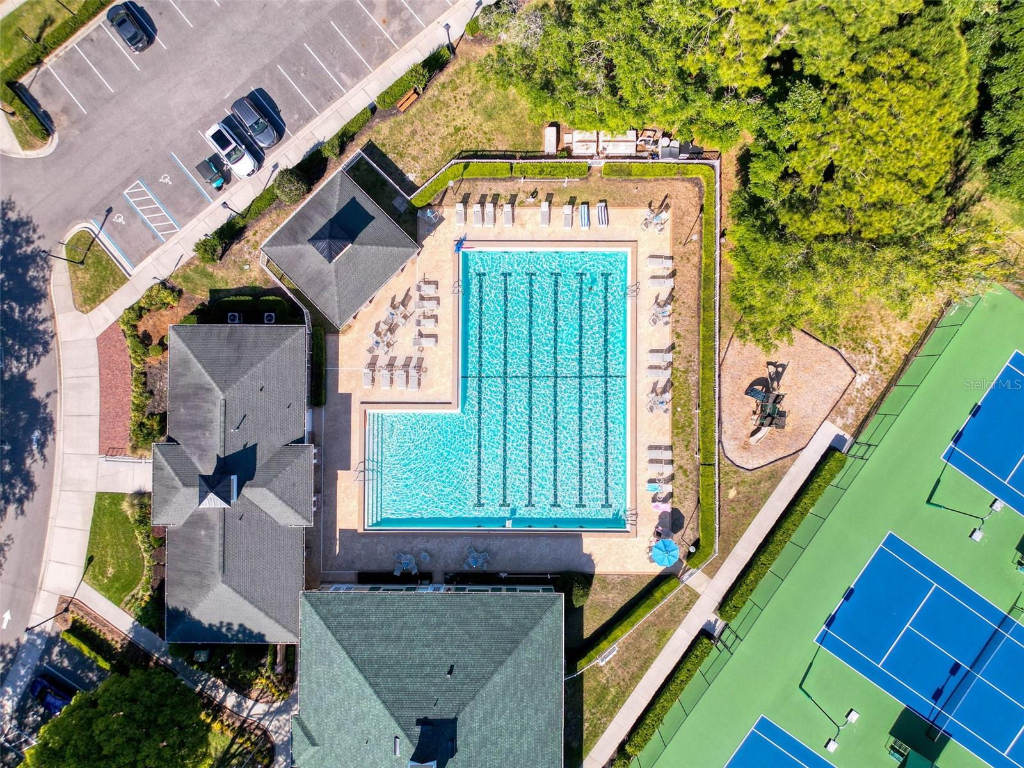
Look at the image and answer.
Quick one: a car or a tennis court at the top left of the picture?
car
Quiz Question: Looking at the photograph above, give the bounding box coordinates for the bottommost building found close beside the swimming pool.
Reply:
[290,581,565,768]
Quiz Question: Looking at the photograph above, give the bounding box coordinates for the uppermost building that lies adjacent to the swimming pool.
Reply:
[260,167,423,328]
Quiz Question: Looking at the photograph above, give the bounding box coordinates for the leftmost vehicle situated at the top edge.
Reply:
[100,0,150,54]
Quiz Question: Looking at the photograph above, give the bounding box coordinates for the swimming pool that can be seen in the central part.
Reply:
[354,241,640,538]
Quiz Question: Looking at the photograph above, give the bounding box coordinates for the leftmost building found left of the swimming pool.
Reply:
[150,323,328,645]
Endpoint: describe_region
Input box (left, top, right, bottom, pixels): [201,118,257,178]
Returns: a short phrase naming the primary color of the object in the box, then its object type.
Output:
white car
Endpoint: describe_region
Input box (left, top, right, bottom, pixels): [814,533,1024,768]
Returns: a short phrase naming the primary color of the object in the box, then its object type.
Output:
blue tennis court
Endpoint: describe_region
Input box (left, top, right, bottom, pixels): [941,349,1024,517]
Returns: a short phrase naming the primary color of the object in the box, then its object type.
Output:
blue tennis court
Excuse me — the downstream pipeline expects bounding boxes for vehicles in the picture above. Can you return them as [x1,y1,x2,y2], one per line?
[201,118,257,178]
[192,156,227,192]
[100,0,150,54]
[227,92,280,149]
[24,683,75,727]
